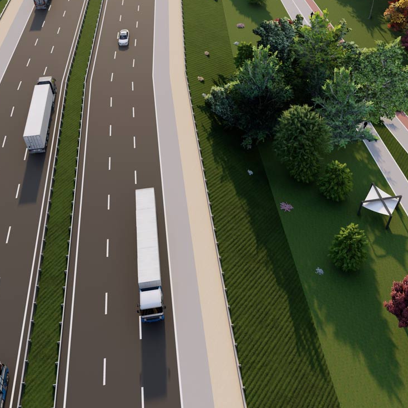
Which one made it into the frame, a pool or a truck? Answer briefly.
truck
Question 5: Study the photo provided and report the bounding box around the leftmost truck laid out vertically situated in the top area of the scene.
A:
[22,75,55,151]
